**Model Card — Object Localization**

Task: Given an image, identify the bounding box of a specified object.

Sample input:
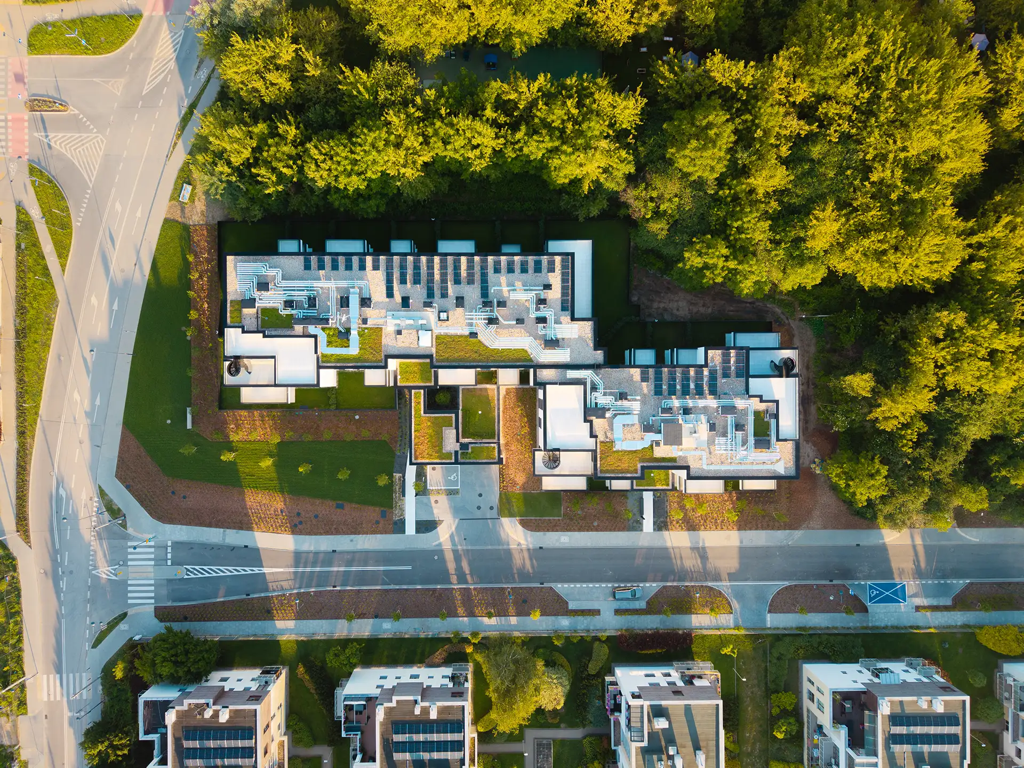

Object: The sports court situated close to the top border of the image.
[521,33,603,93]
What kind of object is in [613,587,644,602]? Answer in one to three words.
car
